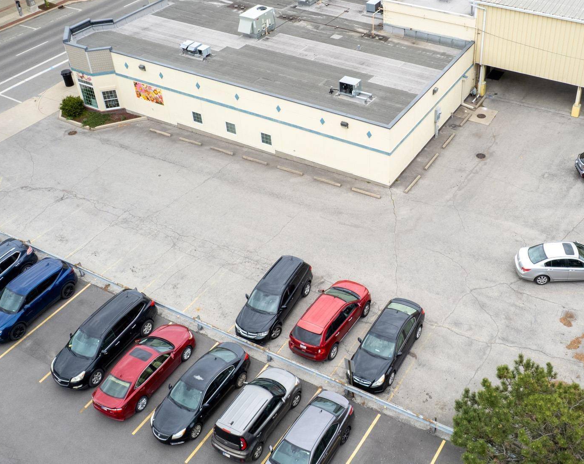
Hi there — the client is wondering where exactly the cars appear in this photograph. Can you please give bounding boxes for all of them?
[0,239,35,292]
[350,302,423,393]
[49,290,157,396]
[148,345,249,450]
[235,254,313,347]
[210,372,302,464]
[93,328,193,422]
[267,399,348,464]
[0,259,75,344]
[289,283,371,367]
[517,241,584,285]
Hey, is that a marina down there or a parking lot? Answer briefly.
parking lot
